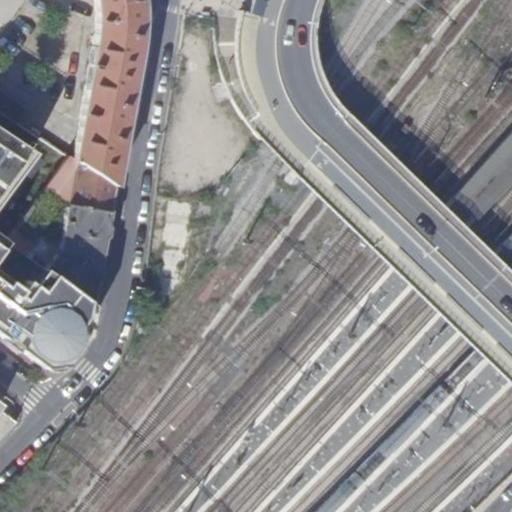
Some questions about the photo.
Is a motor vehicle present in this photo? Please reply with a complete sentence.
Yes, a motor vehicle can be made out from above.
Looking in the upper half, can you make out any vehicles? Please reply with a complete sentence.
Yes, there is a vehicle in the upper half.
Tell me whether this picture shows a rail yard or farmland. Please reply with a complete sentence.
This image shows a rail yard.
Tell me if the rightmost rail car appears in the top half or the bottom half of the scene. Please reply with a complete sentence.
The bottom half of the photo is where the rightmost rail car is.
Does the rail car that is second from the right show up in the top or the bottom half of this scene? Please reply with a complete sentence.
It is in the bottom half that the rail car that is second from the right appears.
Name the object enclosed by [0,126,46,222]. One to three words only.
building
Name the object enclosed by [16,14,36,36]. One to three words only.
car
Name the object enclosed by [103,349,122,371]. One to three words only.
car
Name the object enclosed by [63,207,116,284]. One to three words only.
house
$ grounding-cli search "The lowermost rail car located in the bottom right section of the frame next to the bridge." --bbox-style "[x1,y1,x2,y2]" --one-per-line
[357,384,451,479]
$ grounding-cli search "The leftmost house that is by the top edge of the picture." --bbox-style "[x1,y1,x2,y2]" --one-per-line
[76,0,150,188]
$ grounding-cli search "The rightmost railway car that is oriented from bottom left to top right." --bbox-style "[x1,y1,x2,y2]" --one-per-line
[446,348,486,389]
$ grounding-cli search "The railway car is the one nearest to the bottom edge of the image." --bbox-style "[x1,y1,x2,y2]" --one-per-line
[314,471,364,512]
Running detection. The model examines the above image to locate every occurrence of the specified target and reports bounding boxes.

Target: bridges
[235,0,512,382]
